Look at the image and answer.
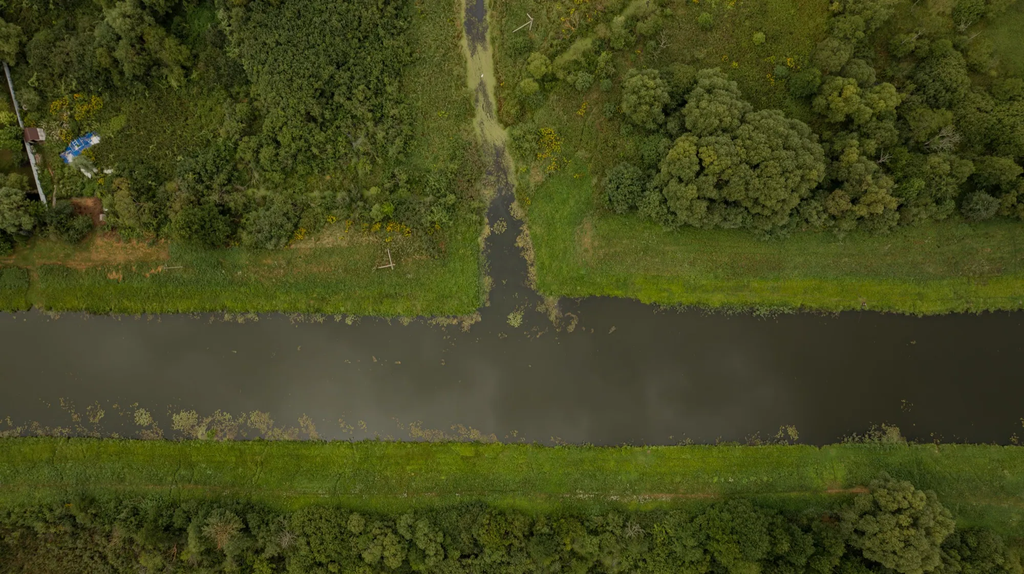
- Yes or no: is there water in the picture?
Yes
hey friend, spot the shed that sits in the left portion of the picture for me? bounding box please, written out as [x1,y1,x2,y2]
[22,127,53,145]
